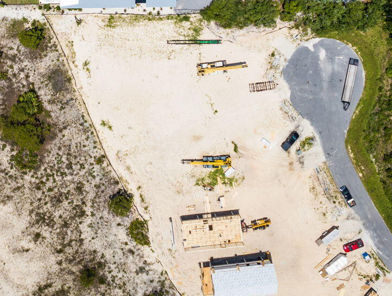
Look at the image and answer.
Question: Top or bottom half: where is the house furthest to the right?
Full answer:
Seen from above, the house furthest to the right lies in the bottom half of the view.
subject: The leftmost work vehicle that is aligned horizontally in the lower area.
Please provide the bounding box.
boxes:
[241,219,268,232]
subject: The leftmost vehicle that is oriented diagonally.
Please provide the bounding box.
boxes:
[280,131,300,151]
